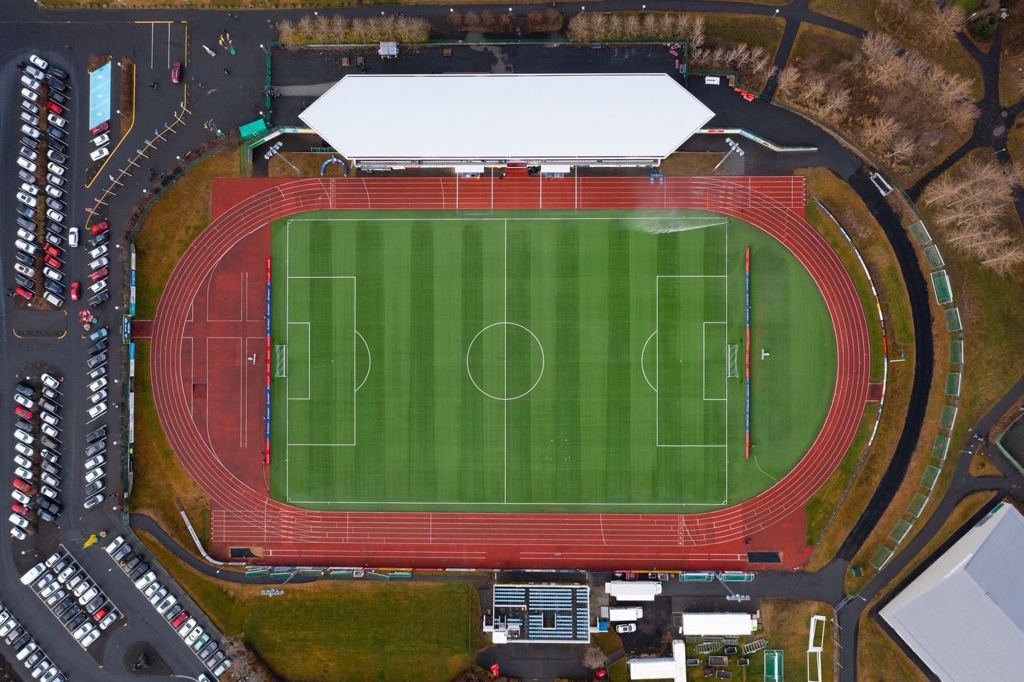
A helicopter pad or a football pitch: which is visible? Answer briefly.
football pitch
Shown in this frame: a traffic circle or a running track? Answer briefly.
running track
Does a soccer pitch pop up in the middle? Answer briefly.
Yes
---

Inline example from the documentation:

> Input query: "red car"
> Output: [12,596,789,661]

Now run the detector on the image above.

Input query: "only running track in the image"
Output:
[131,175,882,571]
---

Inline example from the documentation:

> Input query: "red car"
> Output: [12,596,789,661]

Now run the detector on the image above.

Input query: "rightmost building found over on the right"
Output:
[879,502,1024,682]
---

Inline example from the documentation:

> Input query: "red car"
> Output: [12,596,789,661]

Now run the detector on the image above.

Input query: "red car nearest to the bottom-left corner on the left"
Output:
[93,607,108,622]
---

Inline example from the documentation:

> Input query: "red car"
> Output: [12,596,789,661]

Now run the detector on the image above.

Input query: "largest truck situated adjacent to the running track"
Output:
[604,577,660,601]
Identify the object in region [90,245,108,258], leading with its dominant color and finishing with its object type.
white vehicle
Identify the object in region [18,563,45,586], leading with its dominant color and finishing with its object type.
white vehicle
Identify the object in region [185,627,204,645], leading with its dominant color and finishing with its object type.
white car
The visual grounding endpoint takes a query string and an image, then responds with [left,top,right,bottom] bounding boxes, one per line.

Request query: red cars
[90,267,109,281]
[91,122,109,135]
[16,286,34,299]
[171,62,182,83]
[44,243,62,257]
[70,281,81,301]
[44,254,64,269]
[11,502,28,514]
[47,101,65,114]
[171,612,188,628]
[12,478,30,492]
[93,607,108,622]
[90,222,109,236]
[15,405,33,419]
